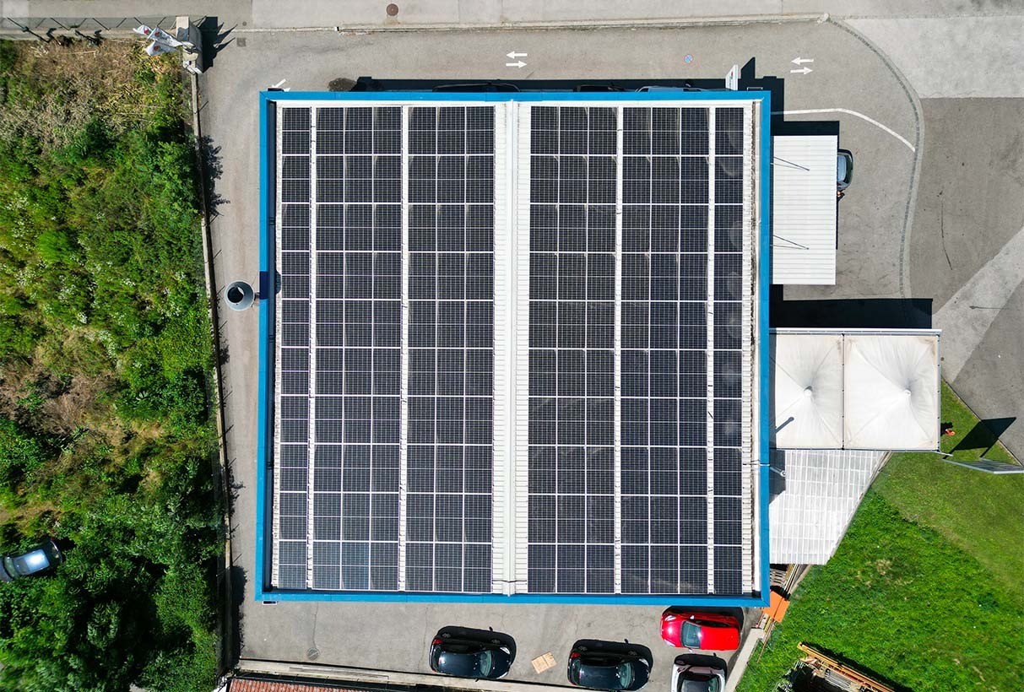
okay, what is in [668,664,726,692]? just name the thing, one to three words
car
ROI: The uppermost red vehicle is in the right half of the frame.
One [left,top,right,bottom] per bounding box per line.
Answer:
[658,607,743,656]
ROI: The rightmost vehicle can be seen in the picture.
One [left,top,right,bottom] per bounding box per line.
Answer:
[837,153,854,189]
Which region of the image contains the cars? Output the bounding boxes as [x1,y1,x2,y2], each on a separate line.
[658,607,743,656]
[668,664,726,692]
[568,646,651,692]
[565,81,638,91]
[0,533,69,590]
[638,79,720,91]
[429,634,512,686]
[837,153,854,189]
